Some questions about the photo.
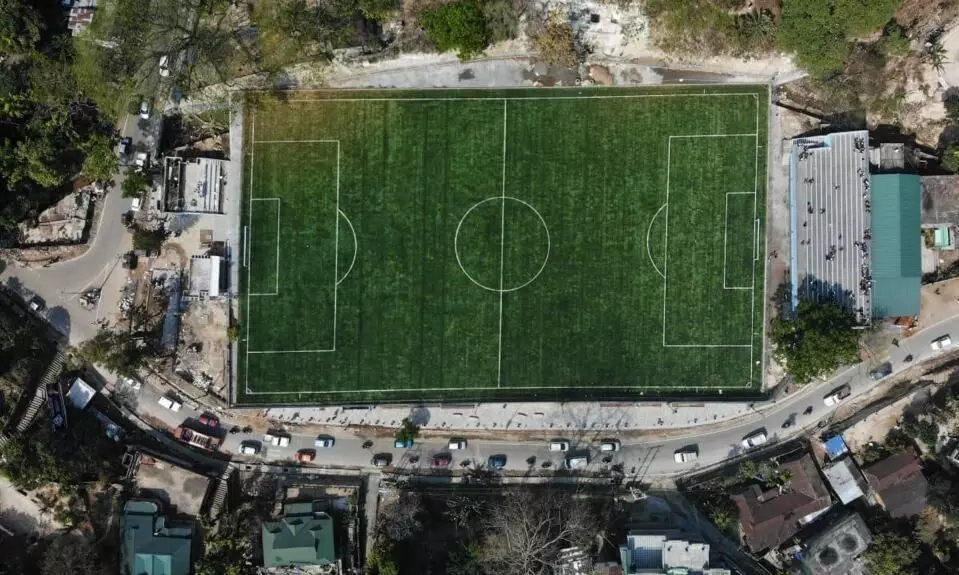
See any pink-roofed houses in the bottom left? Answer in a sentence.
No, I can find no pink-roofed house in the bottom left.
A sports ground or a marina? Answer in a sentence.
The area seen from above is a sports ground.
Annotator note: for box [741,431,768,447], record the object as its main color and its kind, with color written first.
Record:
white car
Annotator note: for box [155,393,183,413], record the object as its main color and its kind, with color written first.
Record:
white vehicle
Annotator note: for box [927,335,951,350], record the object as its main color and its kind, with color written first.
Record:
white car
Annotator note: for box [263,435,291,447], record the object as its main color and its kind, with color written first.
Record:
white vehicle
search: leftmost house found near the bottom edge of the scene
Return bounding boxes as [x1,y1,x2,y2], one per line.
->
[125,499,200,575]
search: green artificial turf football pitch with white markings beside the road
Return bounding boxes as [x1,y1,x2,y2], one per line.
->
[237,85,769,405]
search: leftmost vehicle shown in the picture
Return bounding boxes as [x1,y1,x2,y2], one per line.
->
[28,297,44,311]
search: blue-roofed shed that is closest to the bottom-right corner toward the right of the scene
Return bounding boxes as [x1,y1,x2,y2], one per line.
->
[820,435,848,458]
